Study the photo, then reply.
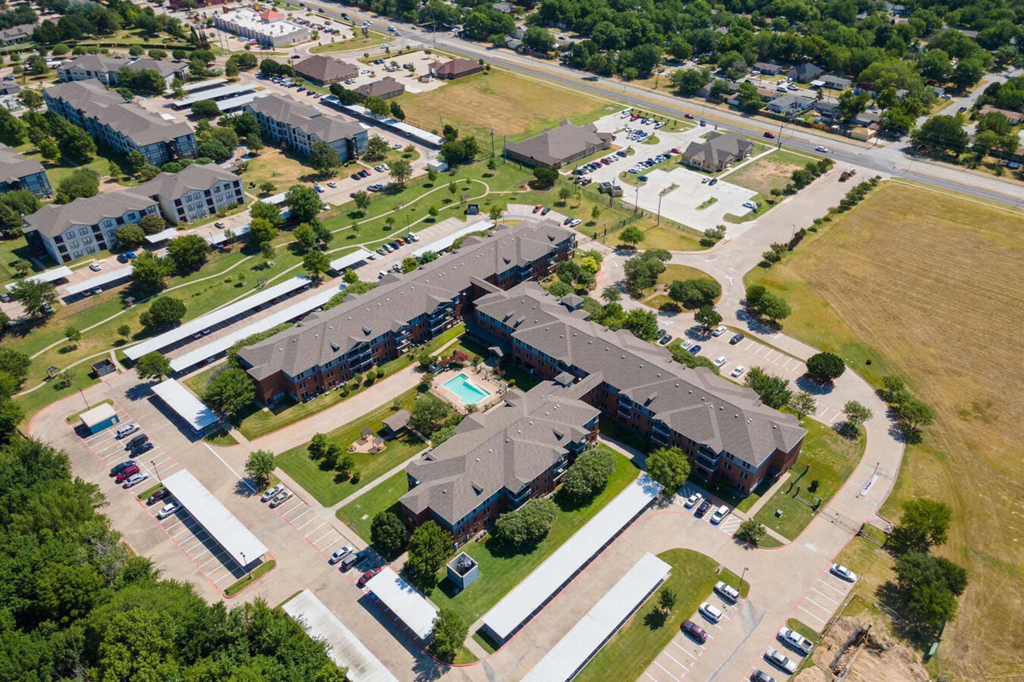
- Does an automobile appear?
Yes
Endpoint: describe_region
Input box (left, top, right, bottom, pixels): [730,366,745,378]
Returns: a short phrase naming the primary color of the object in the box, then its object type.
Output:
white vehicle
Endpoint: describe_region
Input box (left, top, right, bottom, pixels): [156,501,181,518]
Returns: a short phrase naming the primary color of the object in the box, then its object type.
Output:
white car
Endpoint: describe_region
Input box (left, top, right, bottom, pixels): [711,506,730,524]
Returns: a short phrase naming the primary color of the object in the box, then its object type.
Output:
white car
